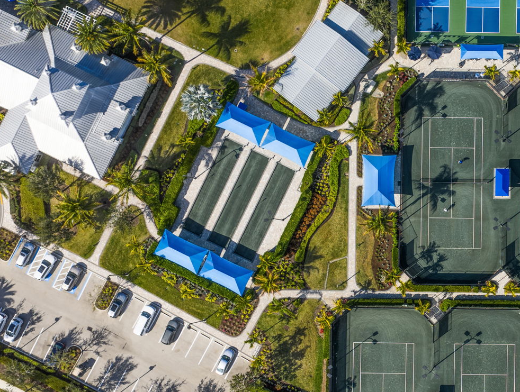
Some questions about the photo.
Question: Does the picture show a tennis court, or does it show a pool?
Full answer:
Visible in the photo is a tennis court.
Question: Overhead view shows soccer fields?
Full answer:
No, there appears to be no soccer field in this shot.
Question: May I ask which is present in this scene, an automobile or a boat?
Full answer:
I can see an automobile in this picture.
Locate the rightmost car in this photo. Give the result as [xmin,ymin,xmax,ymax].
[217,348,237,374]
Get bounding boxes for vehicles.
[62,264,86,290]
[108,291,130,318]
[0,310,11,336]
[217,348,237,374]
[135,306,158,335]
[35,254,57,281]
[162,317,183,345]
[5,316,25,342]
[15,242,37,268]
